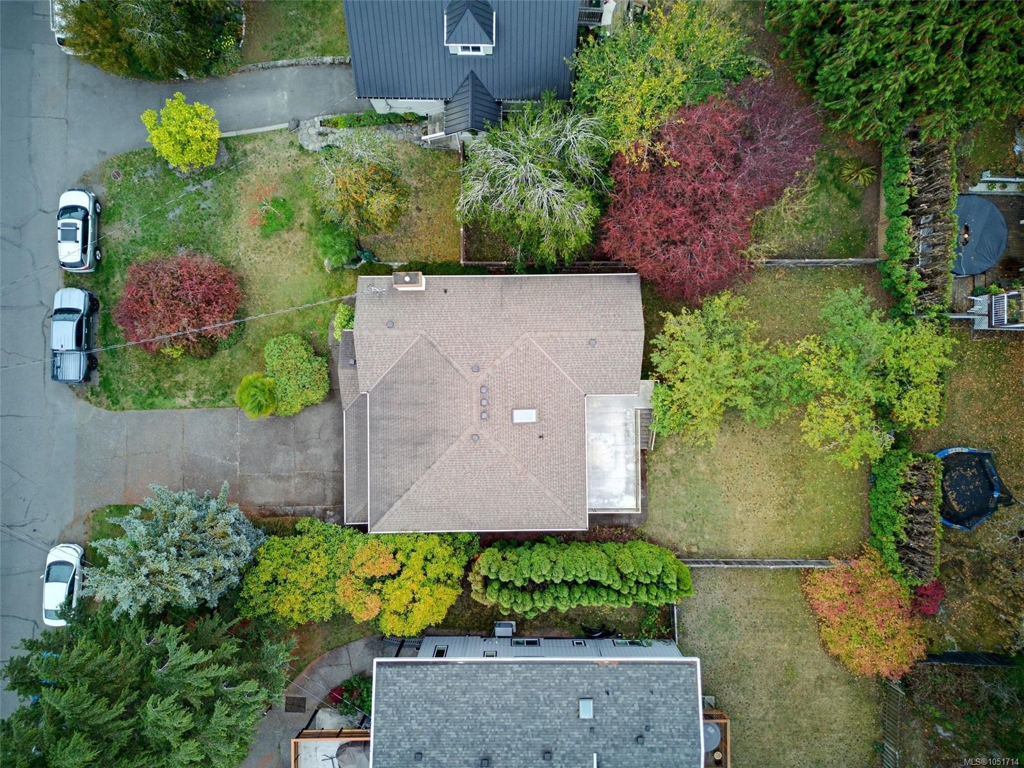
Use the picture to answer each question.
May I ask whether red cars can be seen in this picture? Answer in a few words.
No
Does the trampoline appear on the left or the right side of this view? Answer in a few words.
right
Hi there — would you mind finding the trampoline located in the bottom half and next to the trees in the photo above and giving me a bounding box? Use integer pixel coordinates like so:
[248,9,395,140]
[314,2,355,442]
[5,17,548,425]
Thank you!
[927,447,1024,531]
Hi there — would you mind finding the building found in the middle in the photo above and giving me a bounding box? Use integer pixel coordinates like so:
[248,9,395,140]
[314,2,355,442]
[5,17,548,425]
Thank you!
[339,272,663,535]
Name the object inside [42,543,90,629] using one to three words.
car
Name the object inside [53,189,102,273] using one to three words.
car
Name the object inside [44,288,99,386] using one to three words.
truck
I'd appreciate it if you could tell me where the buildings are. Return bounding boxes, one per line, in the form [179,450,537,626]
[339,272,663,535]
[367,635,707,768]
[344,0,576,162]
